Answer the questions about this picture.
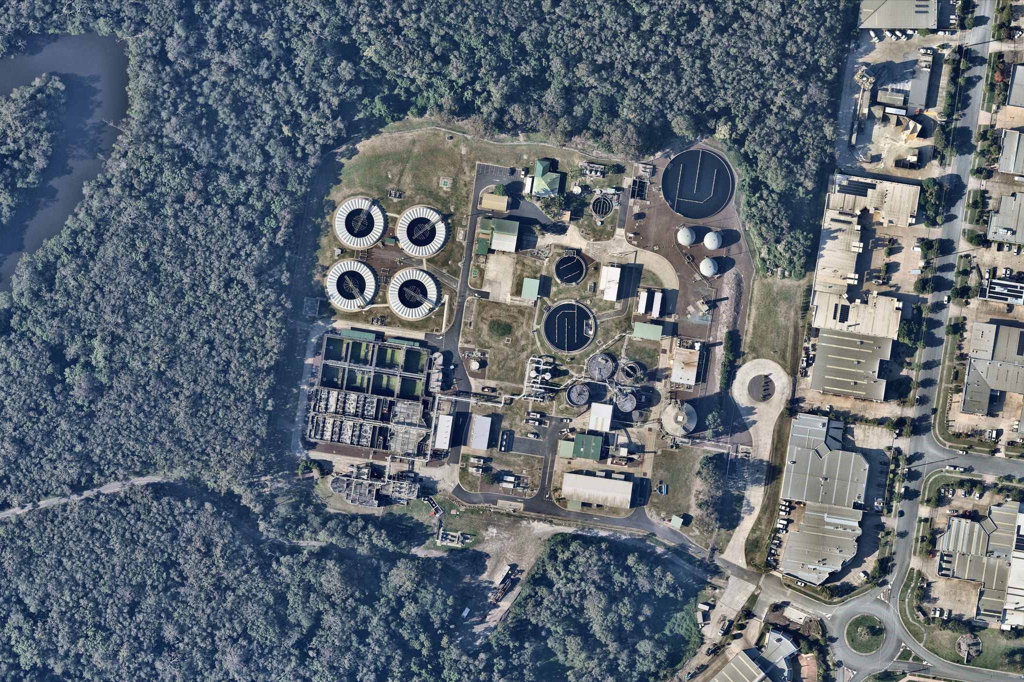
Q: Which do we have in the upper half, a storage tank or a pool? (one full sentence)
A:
The feature located in the upper half is a storage tank.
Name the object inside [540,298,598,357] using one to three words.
storage tank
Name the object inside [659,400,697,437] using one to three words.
storage tank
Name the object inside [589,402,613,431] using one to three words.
shed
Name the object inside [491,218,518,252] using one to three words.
building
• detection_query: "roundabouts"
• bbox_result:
[845,614,886,655]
